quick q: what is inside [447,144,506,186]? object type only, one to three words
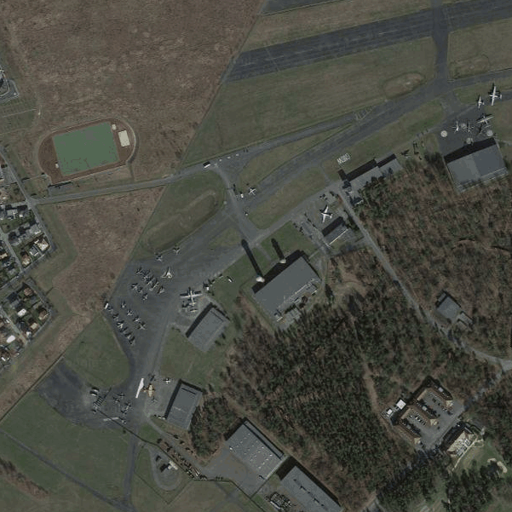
hangar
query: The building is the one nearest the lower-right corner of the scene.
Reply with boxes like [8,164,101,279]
[440,427,475,458]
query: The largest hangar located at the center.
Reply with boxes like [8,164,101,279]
[255,257,321,319]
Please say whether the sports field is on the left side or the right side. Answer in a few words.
left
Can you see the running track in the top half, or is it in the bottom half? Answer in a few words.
top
